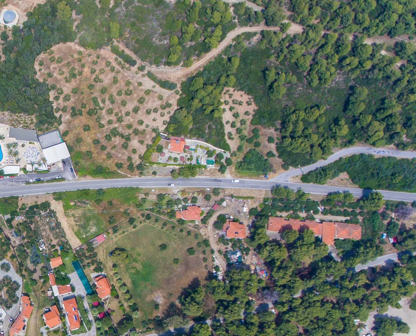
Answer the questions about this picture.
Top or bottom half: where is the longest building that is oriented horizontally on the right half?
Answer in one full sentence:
Seen from above, the longest building that is oriented horizontally on the right half lies in the bottom half of the view.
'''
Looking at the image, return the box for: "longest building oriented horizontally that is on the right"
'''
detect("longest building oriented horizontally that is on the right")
[266,217,362,245]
